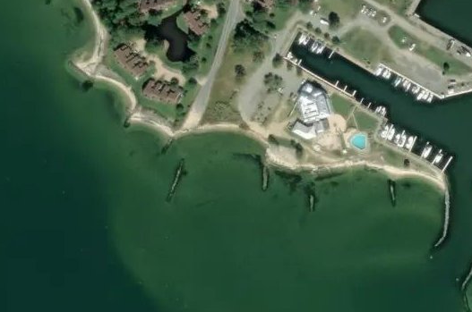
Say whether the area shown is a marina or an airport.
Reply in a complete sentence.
The picture captures a marina.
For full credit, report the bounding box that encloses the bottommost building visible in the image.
[289,118,329,142]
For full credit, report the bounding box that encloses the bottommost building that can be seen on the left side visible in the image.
[144,80,181,104]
